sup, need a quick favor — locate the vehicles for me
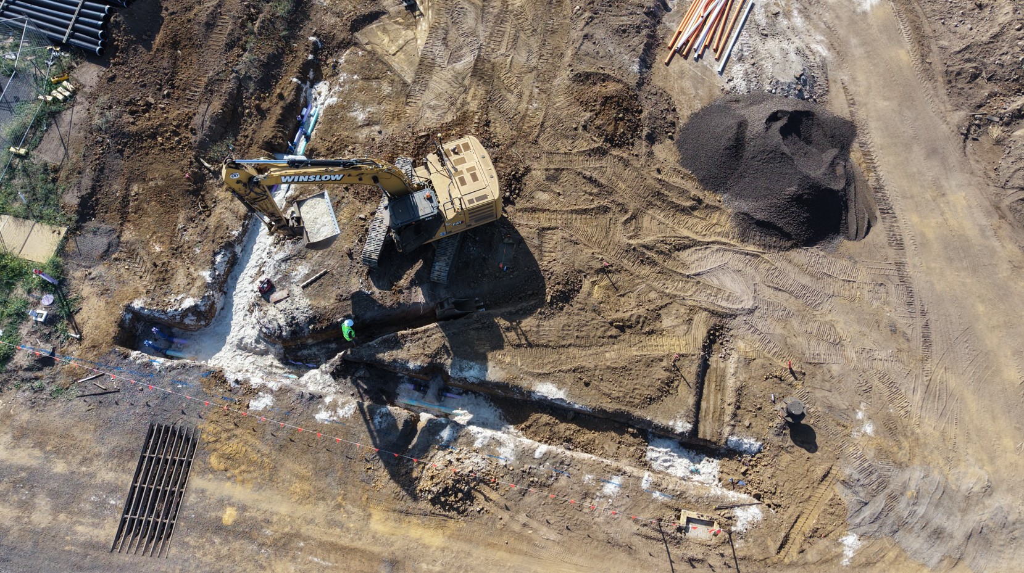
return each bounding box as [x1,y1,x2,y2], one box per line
[217,131,505,285]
